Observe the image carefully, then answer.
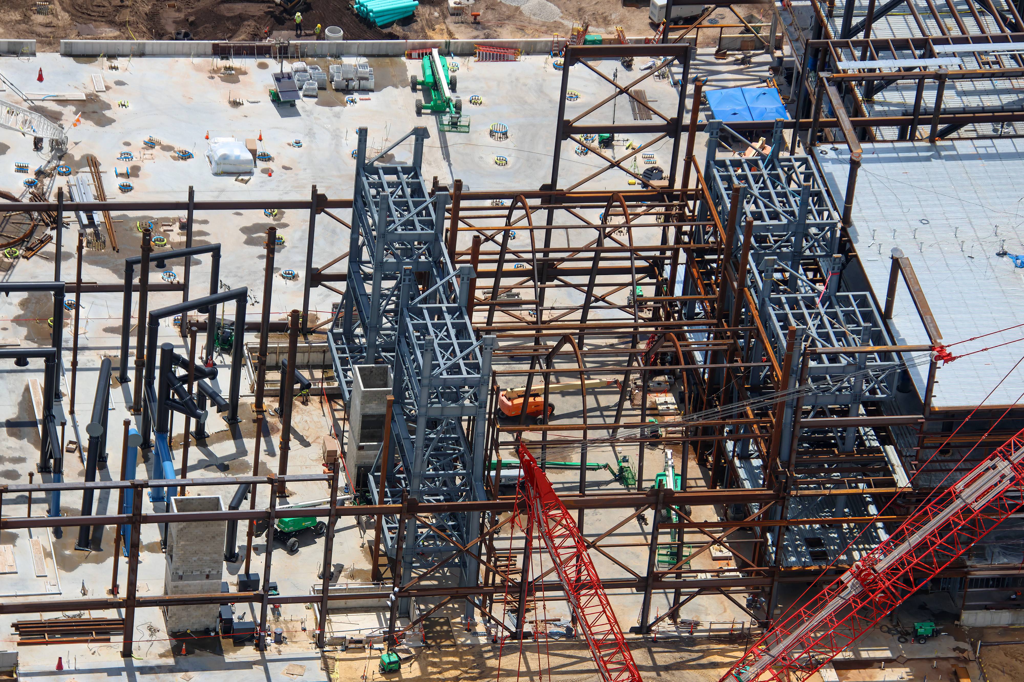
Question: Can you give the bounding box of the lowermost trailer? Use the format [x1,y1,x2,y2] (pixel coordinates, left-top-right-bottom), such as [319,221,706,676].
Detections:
[361,644,406,682]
